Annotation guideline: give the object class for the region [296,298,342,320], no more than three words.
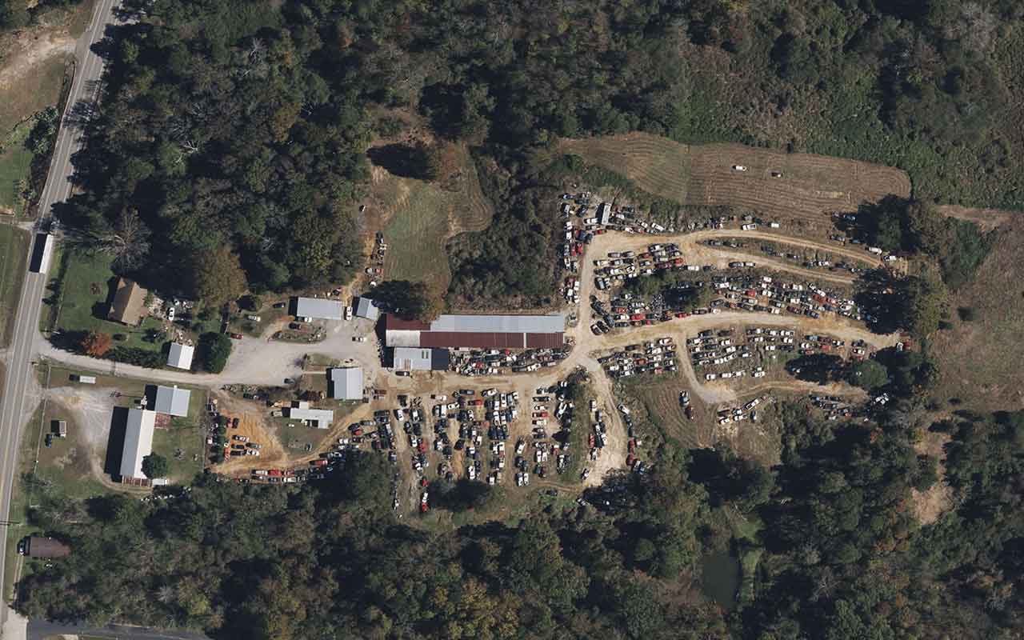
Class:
building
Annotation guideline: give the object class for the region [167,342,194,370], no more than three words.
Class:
shed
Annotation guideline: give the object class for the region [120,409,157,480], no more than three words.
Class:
barn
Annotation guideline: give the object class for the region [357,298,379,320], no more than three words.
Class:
barn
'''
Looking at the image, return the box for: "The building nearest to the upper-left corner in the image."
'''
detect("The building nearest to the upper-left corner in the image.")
[107,278,148,325]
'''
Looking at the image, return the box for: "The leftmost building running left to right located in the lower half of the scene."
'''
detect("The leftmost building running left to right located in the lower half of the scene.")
[30,537,71,557]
